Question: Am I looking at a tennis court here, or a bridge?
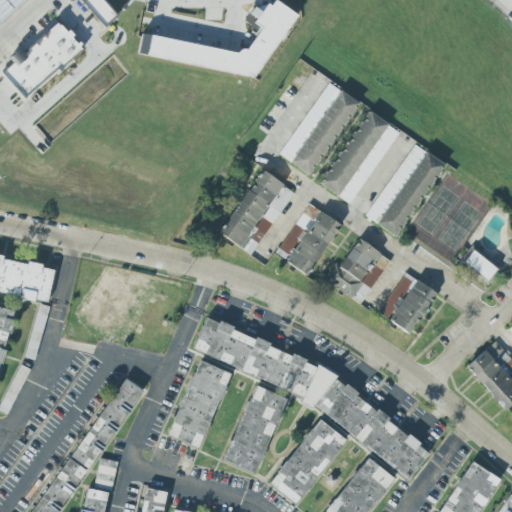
tennis court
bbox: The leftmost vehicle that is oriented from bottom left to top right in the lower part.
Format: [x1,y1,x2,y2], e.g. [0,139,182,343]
[25,478,44,500]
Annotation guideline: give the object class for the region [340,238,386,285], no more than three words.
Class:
house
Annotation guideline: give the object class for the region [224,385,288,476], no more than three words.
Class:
building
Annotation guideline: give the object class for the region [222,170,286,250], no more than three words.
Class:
house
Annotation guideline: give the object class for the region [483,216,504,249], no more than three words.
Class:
swimming pool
